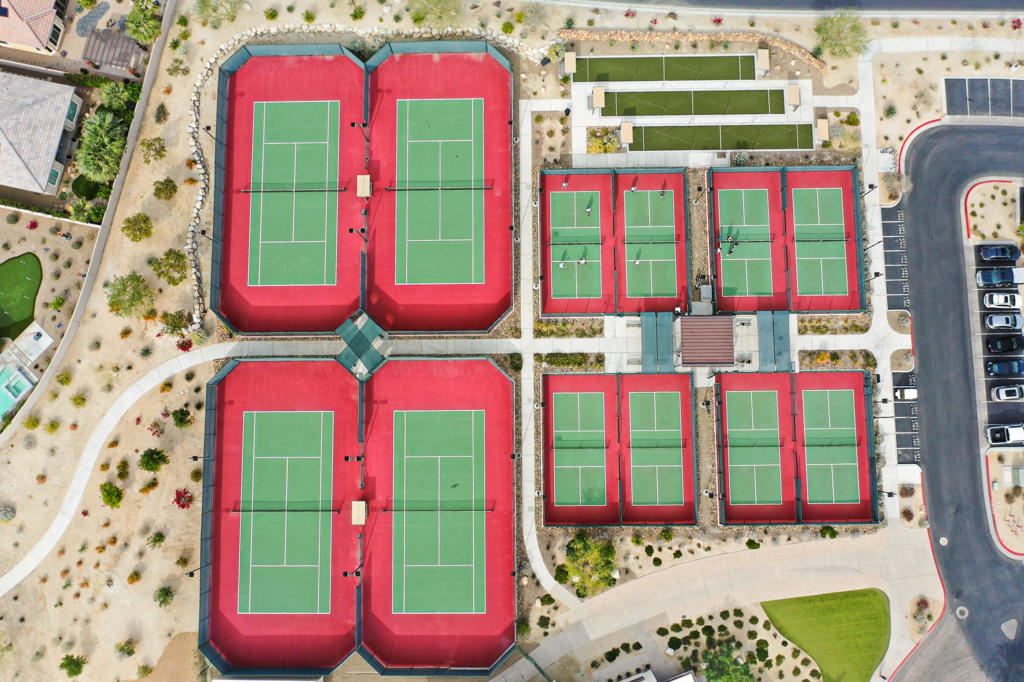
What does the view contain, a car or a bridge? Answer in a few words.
car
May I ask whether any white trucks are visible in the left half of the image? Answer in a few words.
No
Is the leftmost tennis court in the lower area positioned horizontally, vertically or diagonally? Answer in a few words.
vertically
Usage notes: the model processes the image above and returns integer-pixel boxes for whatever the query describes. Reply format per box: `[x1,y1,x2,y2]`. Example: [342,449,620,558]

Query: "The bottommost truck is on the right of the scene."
[980,424,1024,446]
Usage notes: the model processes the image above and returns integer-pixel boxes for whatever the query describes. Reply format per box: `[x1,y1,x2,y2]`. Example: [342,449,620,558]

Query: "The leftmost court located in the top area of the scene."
[220,55,368,335]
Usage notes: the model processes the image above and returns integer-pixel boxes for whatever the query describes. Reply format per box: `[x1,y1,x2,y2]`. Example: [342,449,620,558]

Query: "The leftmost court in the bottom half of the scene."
[208,361,364,670]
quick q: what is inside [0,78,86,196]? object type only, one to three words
house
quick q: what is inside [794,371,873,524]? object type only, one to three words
sports court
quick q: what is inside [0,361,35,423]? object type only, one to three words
swimming pool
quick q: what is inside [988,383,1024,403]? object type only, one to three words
car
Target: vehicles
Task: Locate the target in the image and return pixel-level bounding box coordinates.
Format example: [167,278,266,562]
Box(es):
[982,312,1023,331]
[980,291,1022,310]
[980,424,1024,446]
[985,357,1024,377]
[974,266,1024,287]
[977,243,1020,262]
[983,334,1024,353]
[988,383,1024,403]
[893,389,922,400]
